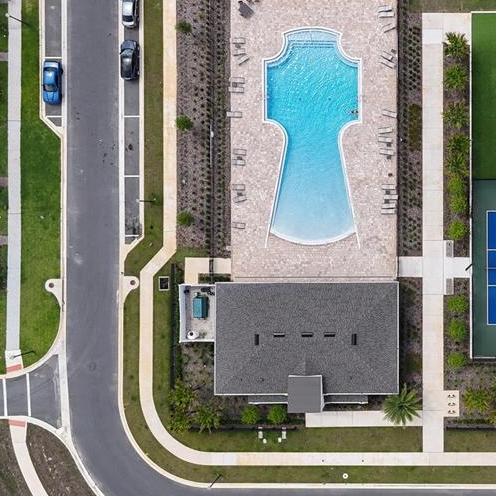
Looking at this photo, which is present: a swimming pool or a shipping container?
swimming pool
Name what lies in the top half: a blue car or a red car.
blue car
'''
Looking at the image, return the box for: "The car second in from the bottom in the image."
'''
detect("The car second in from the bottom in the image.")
[119,41,140,81]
